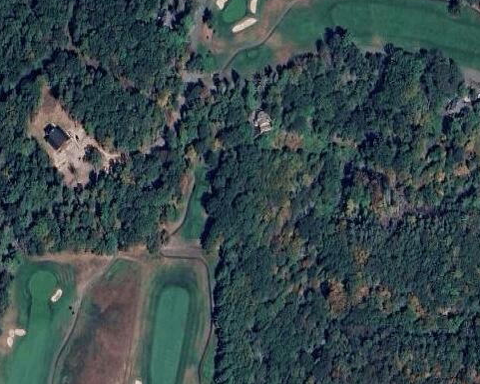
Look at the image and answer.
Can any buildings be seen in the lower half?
No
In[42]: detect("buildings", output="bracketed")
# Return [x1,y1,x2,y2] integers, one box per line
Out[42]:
[37,121,72,148]
[449,93,469,113]
[160,11,177,27]
[252,111,272,132]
